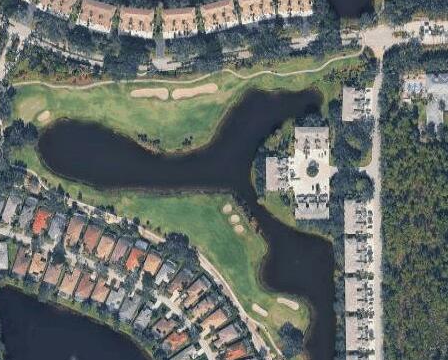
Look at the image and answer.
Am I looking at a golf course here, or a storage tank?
golf course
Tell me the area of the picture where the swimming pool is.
top right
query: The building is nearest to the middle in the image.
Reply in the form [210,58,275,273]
[267,158,287,191]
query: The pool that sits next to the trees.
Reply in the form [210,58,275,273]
[402,75,428,97]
